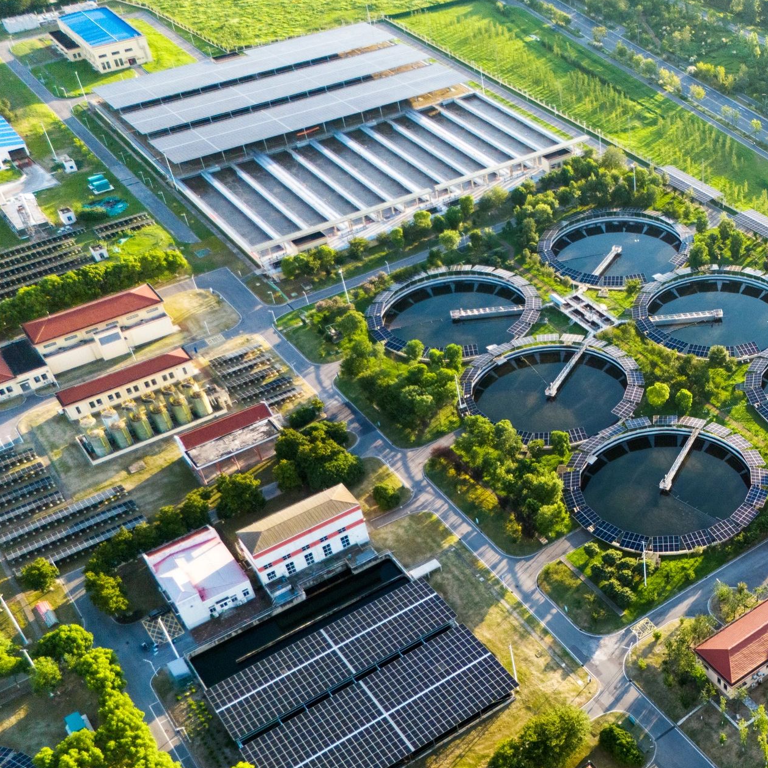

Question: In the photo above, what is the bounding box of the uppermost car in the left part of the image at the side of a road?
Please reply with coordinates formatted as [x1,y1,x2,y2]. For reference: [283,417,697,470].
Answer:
[141,600,173,622]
